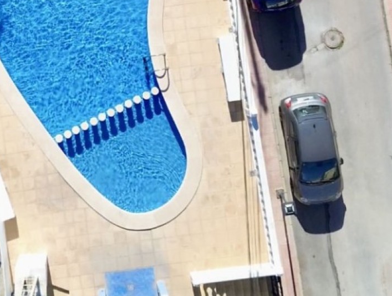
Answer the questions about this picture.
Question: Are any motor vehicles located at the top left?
No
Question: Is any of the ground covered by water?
Yes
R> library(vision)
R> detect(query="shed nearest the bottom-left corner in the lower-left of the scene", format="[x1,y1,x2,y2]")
[17,244,52,296]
